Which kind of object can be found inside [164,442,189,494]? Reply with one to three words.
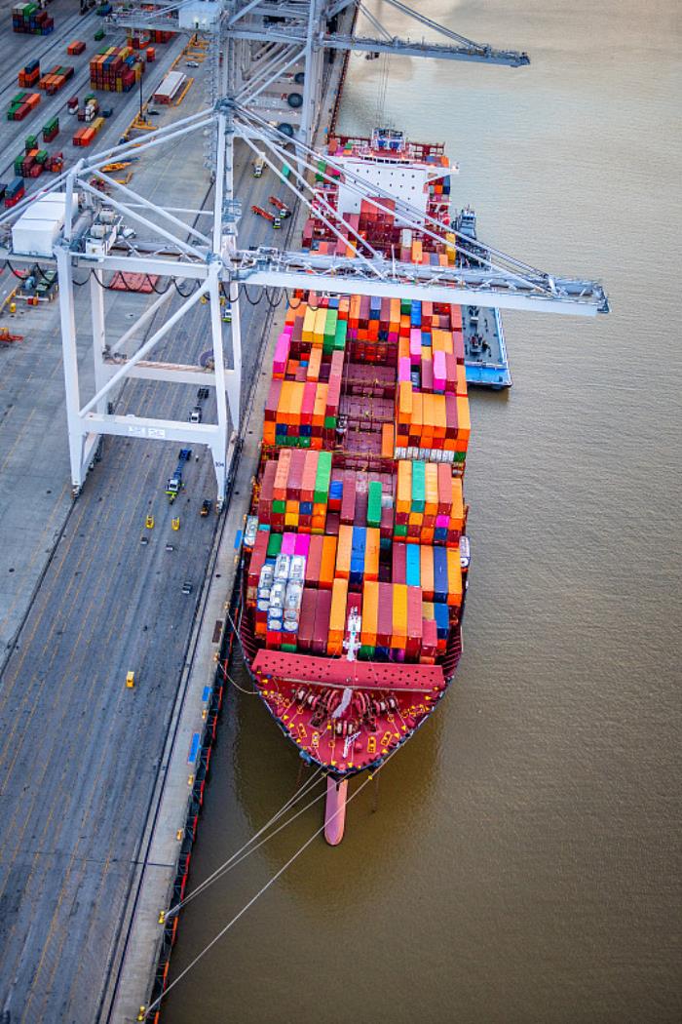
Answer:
truck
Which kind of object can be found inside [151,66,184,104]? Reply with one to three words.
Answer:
shed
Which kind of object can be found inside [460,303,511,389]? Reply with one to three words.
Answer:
ship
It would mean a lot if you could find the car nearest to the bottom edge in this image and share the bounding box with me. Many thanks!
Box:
[180,574,195,594]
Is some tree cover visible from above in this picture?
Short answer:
No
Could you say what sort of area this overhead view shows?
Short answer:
port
